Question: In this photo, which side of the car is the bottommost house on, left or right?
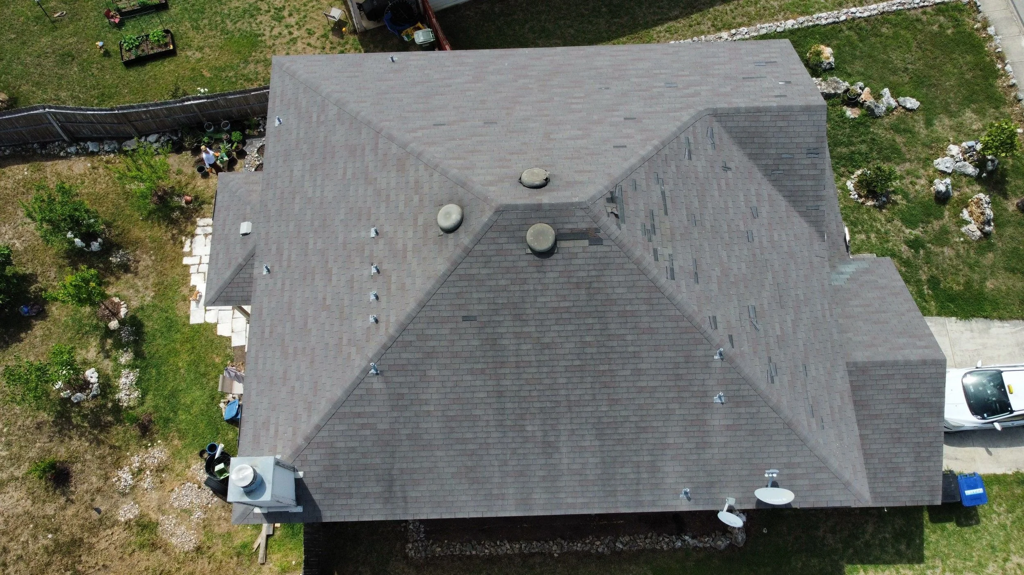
to the left of it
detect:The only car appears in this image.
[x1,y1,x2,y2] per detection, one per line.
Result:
[944,359,1024,431]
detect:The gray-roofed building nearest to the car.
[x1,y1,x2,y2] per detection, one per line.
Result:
[204,40,947,525]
